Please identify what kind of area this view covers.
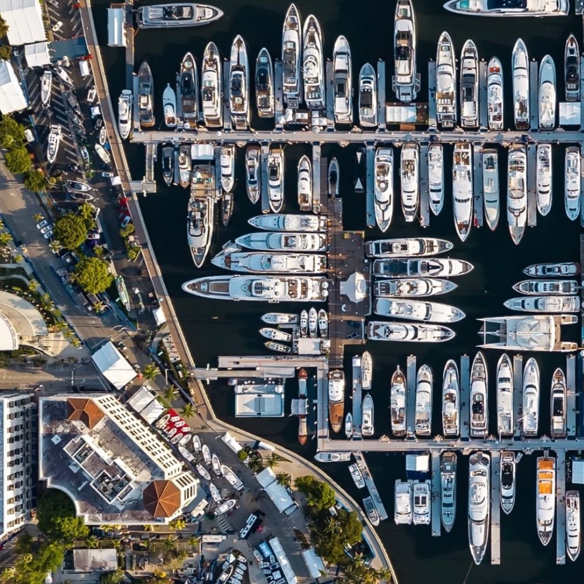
port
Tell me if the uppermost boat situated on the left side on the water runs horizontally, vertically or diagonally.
horizontally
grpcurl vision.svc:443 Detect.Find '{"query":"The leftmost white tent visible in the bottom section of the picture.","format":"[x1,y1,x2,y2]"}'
[91,340,142,387]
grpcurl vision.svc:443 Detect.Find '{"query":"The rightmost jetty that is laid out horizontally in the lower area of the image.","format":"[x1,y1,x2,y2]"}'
[328,438,584,451]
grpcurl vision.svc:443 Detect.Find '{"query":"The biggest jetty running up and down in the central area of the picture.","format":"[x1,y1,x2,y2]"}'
[328,231,372,345]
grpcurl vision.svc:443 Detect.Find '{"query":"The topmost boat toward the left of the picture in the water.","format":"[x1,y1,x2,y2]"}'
[136,2,224,29]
